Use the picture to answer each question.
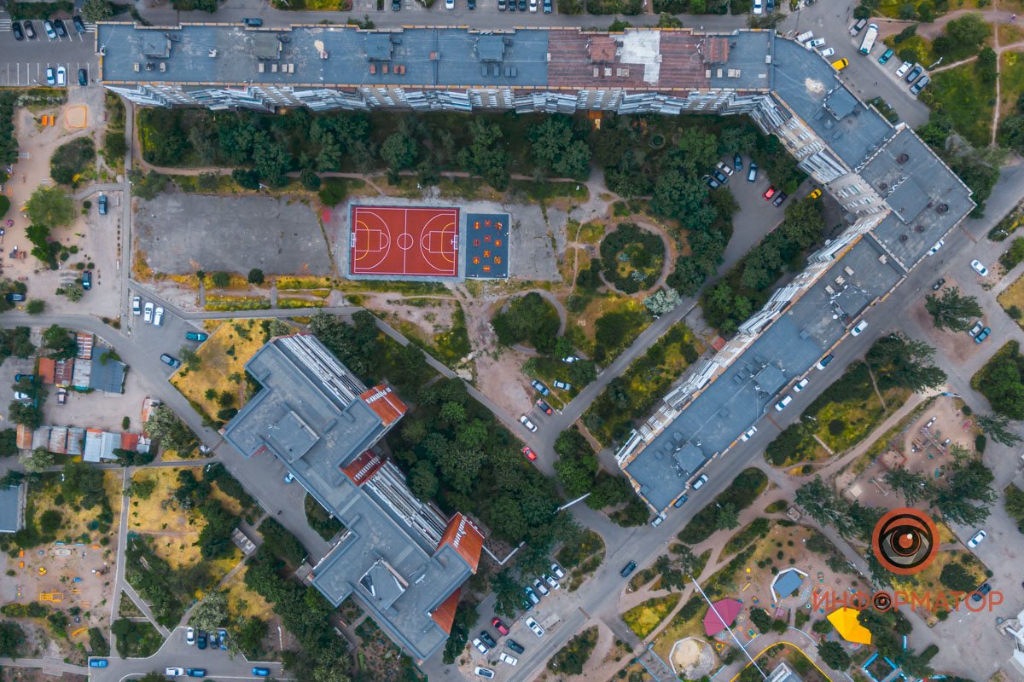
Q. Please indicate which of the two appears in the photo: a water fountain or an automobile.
automobile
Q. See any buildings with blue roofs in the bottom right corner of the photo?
Yes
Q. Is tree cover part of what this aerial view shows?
Yes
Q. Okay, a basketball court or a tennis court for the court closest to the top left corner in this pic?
basketball court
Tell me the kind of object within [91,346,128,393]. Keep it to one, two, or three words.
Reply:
building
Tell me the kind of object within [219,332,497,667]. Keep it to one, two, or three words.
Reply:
building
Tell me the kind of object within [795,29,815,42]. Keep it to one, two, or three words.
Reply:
vehicle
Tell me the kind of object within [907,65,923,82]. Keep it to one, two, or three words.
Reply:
car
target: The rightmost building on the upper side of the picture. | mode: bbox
[825,120,976,271]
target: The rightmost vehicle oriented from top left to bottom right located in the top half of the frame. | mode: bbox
[972,260,988,276]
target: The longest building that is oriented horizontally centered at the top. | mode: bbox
[96,21,774,130]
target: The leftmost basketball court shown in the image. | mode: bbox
[351,205,459,276]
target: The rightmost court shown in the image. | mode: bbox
[465,213,510,277]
